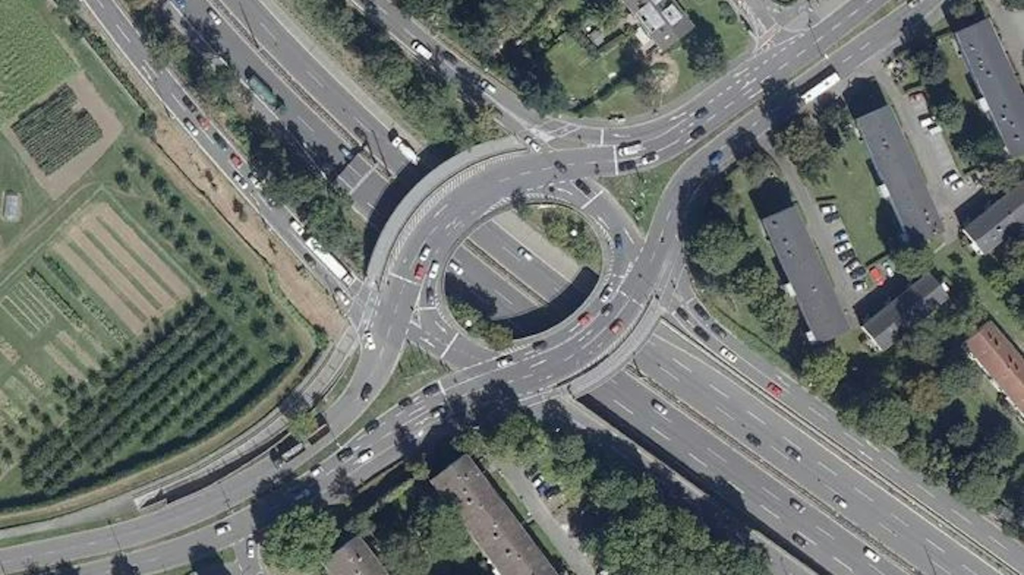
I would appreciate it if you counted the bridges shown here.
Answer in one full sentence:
In total, 2 bridges can be seen.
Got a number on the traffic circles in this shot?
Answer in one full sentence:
There is 1 traffic circle in the image.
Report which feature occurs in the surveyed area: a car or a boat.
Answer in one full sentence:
It is a car that can be seen here.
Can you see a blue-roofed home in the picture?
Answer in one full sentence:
No, I can see no blue-roofed home in this picture.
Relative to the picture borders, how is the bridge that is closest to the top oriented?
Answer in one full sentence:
The bridge that is closest to the top runs at an angle in the image.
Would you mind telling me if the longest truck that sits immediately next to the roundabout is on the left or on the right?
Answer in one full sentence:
The longest truck that sits immediately next to the roundabout appears in the left half of the scene.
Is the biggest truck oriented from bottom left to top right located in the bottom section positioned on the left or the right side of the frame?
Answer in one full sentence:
The biggest truck oriented from bottom left to top right located in the bottom section appears in the left half of the scene.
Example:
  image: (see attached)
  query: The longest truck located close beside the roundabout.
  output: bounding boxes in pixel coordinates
[303,239,356,286]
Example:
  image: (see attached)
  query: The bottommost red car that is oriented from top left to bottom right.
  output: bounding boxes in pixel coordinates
[765,382,783,397]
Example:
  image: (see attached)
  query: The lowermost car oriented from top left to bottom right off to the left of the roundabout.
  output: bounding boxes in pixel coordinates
[334,288,350,306]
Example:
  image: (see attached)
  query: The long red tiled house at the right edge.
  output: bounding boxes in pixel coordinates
[963,322,1024,414]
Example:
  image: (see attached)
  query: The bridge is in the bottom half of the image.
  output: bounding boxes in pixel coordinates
[554,297,663,400]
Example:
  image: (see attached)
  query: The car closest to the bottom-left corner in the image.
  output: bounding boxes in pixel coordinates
[213,522,233,536]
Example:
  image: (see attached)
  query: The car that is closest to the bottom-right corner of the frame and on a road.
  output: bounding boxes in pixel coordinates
[862,546,880,562]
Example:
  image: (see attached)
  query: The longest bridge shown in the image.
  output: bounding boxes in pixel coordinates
[366,134,529,282]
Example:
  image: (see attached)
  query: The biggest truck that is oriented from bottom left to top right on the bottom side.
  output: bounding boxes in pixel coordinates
[277,428,330,467]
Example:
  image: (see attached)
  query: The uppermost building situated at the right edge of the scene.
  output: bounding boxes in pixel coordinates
[951,18,1024,164]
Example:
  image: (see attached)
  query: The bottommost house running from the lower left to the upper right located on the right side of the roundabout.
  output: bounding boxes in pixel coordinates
[859,275,949,351]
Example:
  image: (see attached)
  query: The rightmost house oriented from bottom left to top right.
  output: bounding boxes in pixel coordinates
[958,185,1024,254]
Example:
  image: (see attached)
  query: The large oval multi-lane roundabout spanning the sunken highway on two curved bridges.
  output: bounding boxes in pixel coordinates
[349,128,654,395]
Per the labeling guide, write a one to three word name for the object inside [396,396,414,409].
vehicle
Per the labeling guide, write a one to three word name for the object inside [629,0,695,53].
house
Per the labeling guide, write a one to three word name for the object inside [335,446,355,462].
vehicle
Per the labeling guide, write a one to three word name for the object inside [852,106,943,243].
building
